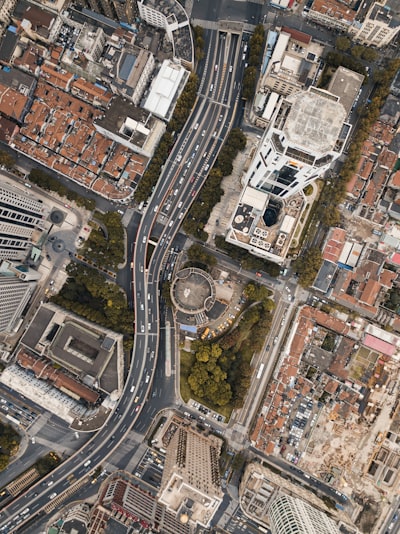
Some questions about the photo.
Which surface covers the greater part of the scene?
buildings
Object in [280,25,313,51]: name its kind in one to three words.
building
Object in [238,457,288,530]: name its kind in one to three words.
building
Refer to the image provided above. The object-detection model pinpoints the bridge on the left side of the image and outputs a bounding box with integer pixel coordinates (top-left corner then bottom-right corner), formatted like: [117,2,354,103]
[0,30,235,534]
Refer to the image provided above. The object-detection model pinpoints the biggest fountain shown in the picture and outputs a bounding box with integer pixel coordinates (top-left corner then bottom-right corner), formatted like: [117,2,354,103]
[46,206,67,227]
